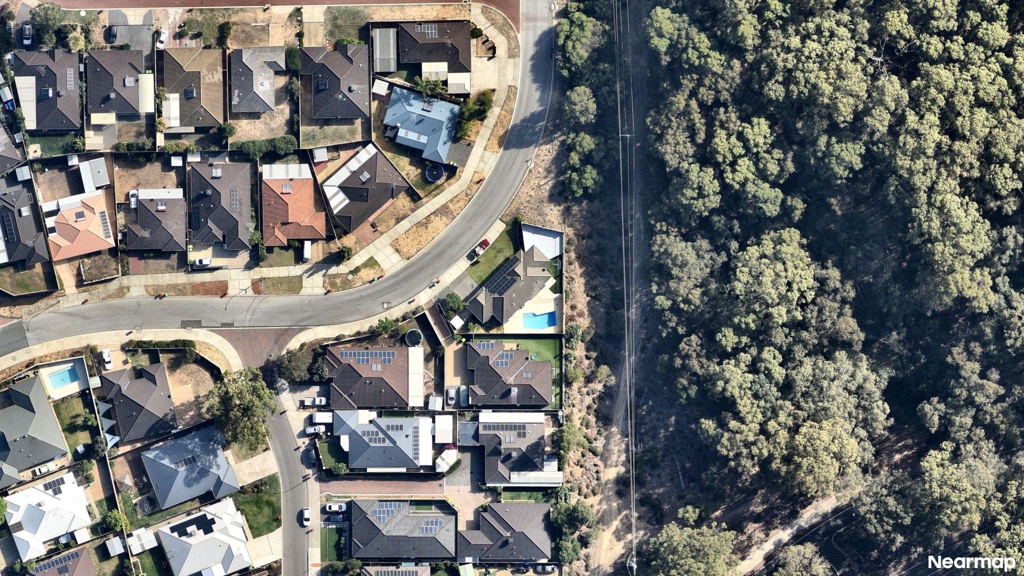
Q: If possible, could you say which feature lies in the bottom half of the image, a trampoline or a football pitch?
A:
trampoline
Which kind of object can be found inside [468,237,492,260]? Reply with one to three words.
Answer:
truck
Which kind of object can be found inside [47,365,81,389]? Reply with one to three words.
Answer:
swimming pool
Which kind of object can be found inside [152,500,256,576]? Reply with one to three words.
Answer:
house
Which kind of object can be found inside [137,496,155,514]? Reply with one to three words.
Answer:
trampoline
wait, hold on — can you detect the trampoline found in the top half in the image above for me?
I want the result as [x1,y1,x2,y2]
[426,164,444,182]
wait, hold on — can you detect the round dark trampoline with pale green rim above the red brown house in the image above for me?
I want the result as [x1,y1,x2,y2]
[405,330,422,347]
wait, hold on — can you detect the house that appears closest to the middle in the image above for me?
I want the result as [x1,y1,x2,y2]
[464,245,555,325]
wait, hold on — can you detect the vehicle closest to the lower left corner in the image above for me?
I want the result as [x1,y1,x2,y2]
[34,462,56,476]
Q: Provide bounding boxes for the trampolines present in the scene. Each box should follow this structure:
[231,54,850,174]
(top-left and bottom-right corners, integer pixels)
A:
[426,164,444,182]
[405,330,422,347]
[137,496,155,514]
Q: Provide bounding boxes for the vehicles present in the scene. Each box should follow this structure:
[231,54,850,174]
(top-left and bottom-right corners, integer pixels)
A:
[194,258,212,266]
[447,387,456,405]
[305,424,325,434]
[303,240,311,262]
[156,29,168,48]
[459,385,469,406]
[101,348,112,370]
[23,25,32,45]
[468,237,492,260]
[326,503,347,511]
[128,189,138,209]
[307,446,317,467]
[329,514,343,522]
[304,396,325,406]
[34,462,56,476]
[302,507,310,527]
[108,25,118,43]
